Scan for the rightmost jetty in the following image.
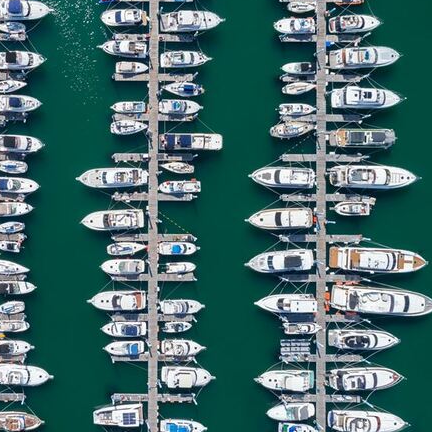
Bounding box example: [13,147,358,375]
[280,0,367,432]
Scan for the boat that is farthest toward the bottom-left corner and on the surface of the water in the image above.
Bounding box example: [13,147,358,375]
[0,399,46,432]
